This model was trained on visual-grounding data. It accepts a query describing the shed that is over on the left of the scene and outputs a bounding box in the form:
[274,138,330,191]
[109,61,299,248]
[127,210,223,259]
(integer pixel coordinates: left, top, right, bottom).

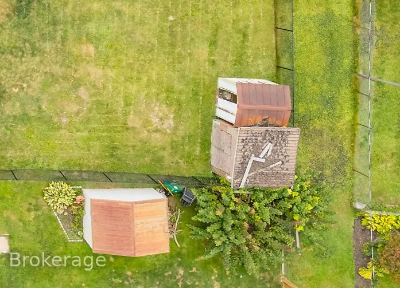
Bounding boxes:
[84,188,169,262]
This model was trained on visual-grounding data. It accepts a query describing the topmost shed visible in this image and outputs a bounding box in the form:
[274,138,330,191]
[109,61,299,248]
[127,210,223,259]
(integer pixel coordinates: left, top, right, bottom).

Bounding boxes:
[216,77,297,128]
